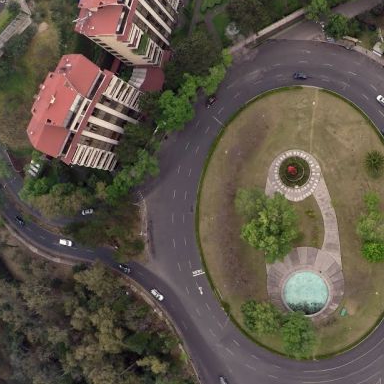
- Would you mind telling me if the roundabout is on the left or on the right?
right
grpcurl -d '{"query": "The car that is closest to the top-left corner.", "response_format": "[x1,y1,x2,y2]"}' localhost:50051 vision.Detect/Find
[26,160,41,174]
